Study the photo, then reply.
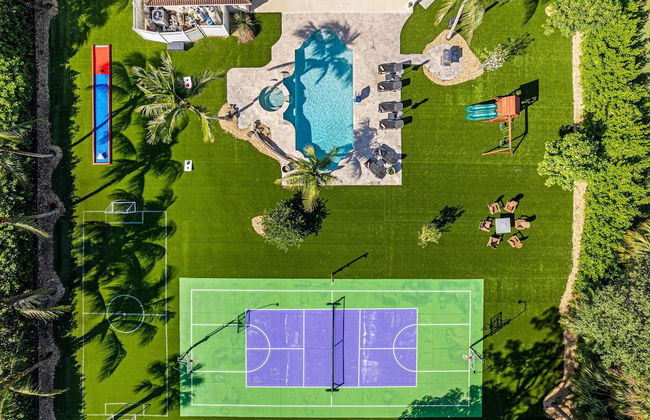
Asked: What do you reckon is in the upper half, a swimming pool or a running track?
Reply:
swimming pool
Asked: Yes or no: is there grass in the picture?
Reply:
Yes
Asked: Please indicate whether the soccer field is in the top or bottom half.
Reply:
bottom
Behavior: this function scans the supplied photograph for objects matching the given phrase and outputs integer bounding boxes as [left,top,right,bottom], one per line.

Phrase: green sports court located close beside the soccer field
[180,279,484,417]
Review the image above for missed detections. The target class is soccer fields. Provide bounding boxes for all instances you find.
[81,209,169,420]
